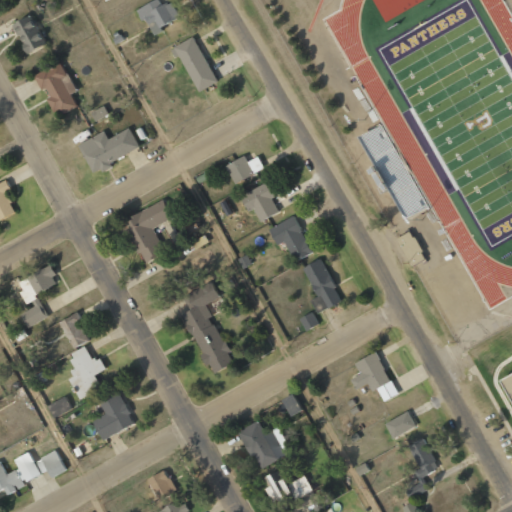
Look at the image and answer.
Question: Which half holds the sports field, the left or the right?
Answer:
right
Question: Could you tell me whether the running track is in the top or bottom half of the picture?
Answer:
top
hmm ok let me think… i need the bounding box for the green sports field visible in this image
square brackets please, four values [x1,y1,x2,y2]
[360,0,512,264]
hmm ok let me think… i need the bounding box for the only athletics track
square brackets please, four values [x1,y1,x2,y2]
[324,0,512,307]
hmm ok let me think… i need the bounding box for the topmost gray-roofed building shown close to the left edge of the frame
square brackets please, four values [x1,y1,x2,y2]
[14,14,48,53]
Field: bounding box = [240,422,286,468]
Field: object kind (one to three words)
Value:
house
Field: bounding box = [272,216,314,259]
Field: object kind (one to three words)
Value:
house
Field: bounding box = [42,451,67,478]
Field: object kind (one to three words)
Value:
building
